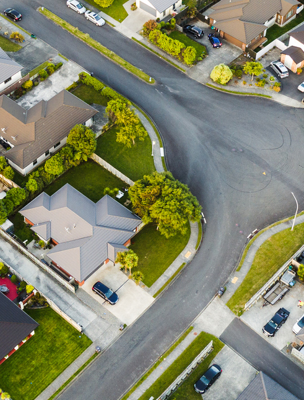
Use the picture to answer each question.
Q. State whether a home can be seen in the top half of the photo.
Yes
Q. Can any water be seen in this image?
No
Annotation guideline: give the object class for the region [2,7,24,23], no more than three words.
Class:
car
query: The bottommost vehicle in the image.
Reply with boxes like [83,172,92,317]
[193,361,224,397]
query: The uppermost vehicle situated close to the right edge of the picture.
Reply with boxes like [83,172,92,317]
[268,59,292,81]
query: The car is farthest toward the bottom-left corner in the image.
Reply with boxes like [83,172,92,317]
[89,278,120,305]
